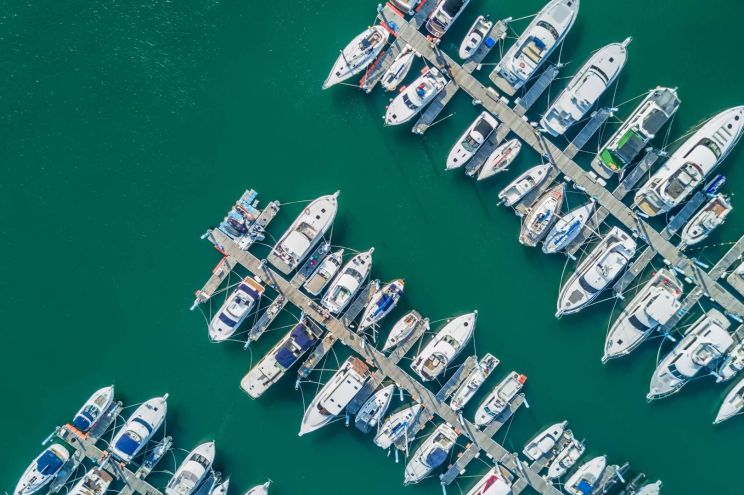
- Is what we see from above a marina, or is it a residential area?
marina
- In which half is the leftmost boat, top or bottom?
bottom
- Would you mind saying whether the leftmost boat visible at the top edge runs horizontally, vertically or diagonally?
diagonally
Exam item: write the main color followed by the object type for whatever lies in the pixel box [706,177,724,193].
blue boat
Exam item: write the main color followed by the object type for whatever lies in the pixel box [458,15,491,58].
white boat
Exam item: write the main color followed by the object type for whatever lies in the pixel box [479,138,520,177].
white boat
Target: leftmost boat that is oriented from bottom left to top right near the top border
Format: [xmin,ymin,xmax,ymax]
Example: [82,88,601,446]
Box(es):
[322,24,392,89]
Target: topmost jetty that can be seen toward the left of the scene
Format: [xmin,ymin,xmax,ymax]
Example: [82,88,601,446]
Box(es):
[222,190,262,243]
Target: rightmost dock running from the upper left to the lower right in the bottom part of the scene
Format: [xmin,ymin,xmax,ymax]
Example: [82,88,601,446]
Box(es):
[195,198,619,495]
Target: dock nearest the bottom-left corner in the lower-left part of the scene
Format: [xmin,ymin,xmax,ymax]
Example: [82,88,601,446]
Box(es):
[46,398,223,495]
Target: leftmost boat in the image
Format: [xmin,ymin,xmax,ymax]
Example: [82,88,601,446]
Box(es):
[12,438,70,495]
